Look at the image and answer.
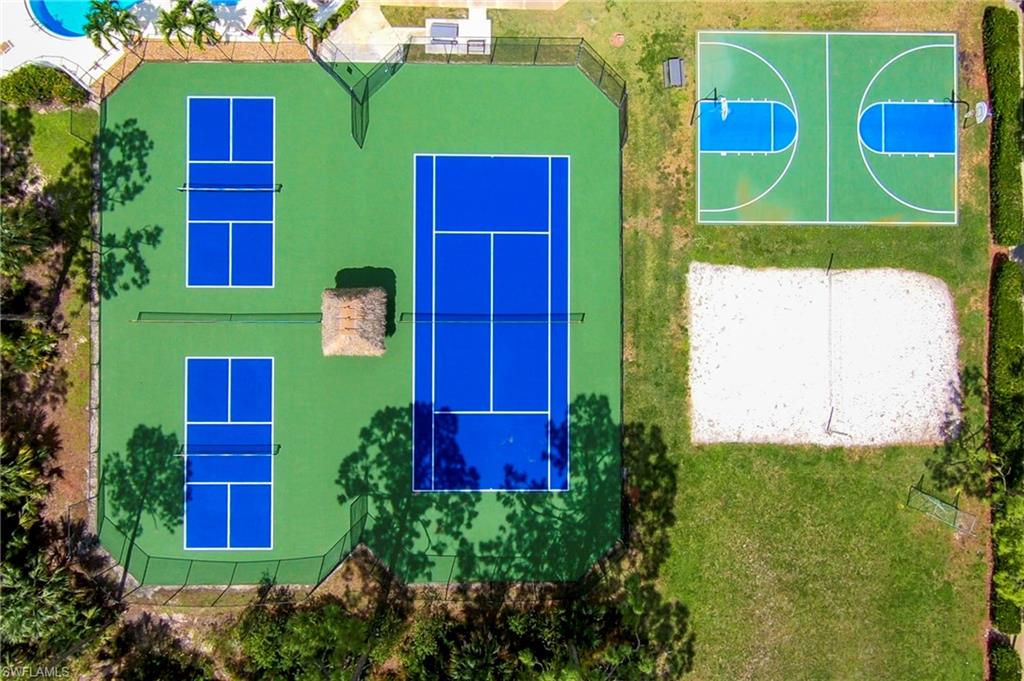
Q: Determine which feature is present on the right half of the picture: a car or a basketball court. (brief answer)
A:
basketball court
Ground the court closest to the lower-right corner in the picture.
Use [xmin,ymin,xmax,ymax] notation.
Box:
[688,263,962,448]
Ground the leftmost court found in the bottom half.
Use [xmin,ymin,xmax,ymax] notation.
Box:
[184,357,273,550]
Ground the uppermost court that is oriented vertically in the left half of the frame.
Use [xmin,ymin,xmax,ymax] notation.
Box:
[187,96,274,287]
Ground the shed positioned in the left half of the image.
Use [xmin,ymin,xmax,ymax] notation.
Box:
[321,287,388,355]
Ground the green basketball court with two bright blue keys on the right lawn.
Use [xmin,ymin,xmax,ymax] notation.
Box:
[697,31,958,224]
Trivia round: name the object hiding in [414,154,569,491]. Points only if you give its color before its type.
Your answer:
blue tennis court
